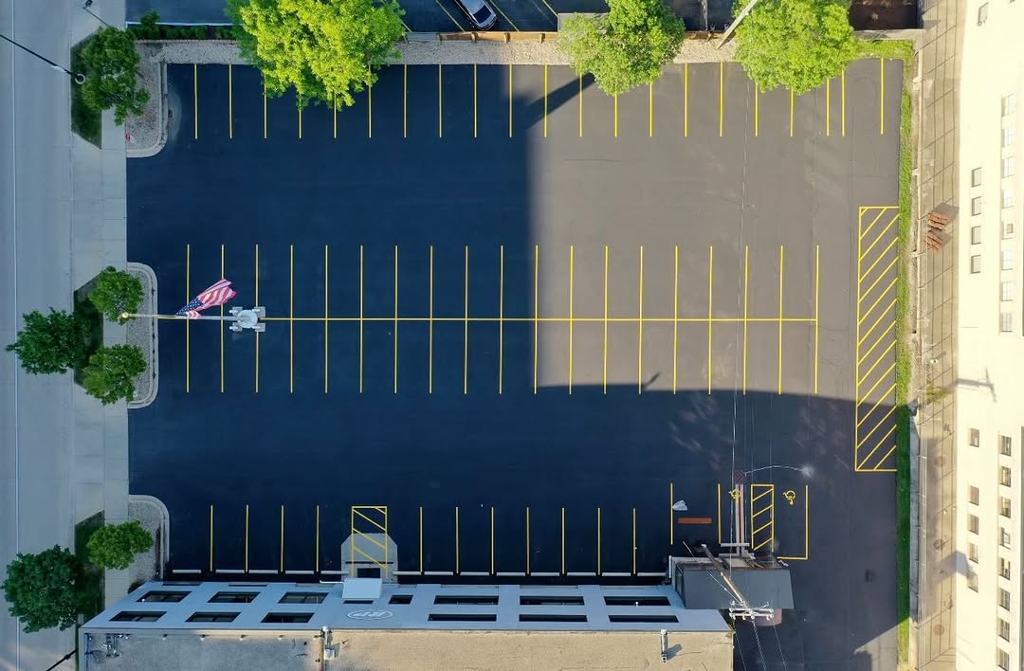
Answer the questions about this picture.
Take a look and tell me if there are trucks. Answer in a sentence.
No, this view has no truck in it.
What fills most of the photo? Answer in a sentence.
The bulk of the photo consists of paved ground.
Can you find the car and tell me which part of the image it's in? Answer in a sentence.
The car appears toward the top of the photo.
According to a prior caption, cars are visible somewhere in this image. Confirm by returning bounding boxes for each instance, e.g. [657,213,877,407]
[456,0,497,27]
